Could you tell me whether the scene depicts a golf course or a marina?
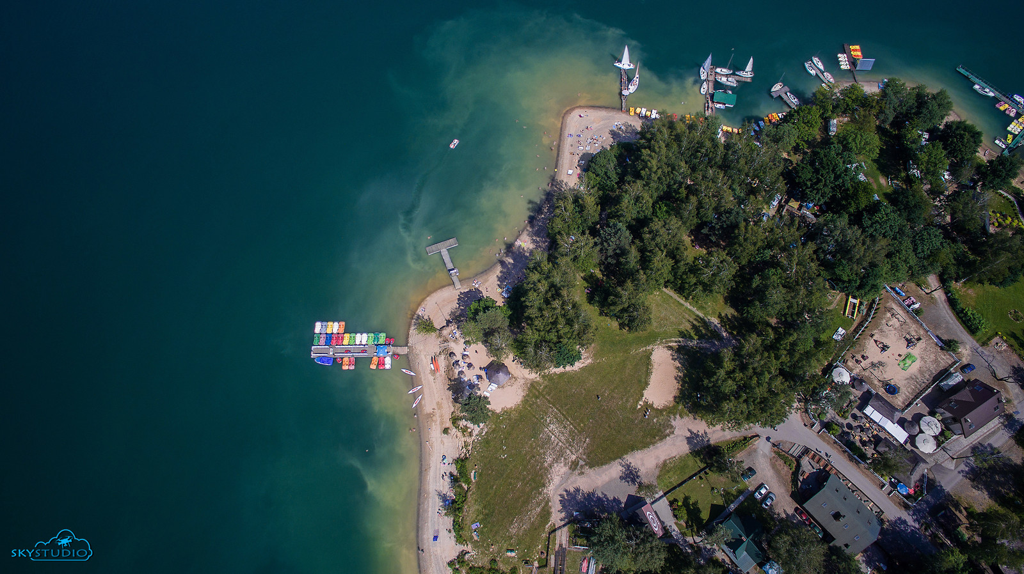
marina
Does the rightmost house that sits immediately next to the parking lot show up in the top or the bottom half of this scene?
bottom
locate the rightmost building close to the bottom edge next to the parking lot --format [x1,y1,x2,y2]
[797,472,880,556]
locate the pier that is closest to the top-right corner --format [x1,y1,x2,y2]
[955,64,1024,113]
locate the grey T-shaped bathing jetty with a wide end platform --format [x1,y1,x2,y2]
[425,236,462,291]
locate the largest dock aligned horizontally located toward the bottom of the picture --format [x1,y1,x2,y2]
[311,345,409,358]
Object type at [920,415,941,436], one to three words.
umbrella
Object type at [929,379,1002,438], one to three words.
house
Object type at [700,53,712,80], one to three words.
boat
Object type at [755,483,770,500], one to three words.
car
